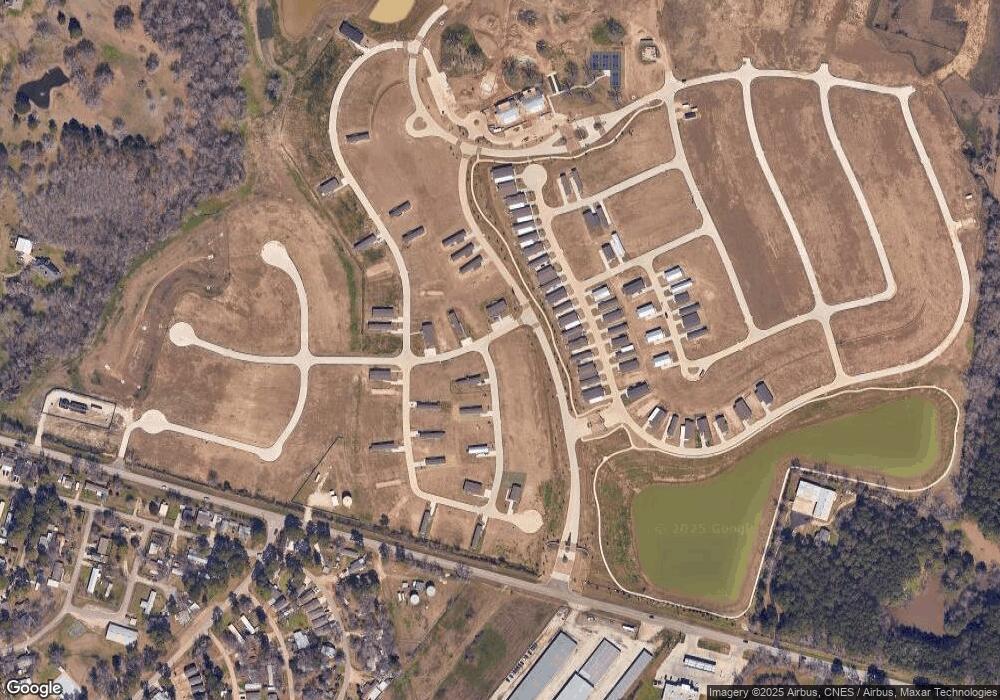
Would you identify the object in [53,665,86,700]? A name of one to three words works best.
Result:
house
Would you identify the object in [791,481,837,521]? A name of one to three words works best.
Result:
building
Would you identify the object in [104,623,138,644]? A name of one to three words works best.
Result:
house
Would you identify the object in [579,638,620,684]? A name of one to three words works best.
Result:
building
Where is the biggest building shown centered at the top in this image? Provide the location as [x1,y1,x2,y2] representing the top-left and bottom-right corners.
[496,94,550,131]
